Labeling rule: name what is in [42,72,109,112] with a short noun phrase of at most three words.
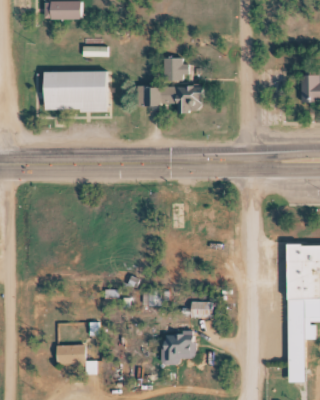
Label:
building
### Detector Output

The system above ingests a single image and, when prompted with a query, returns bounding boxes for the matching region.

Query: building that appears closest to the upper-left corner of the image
[44,2,84,20]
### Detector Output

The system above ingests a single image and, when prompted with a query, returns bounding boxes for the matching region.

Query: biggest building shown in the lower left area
[56,344,86,366]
